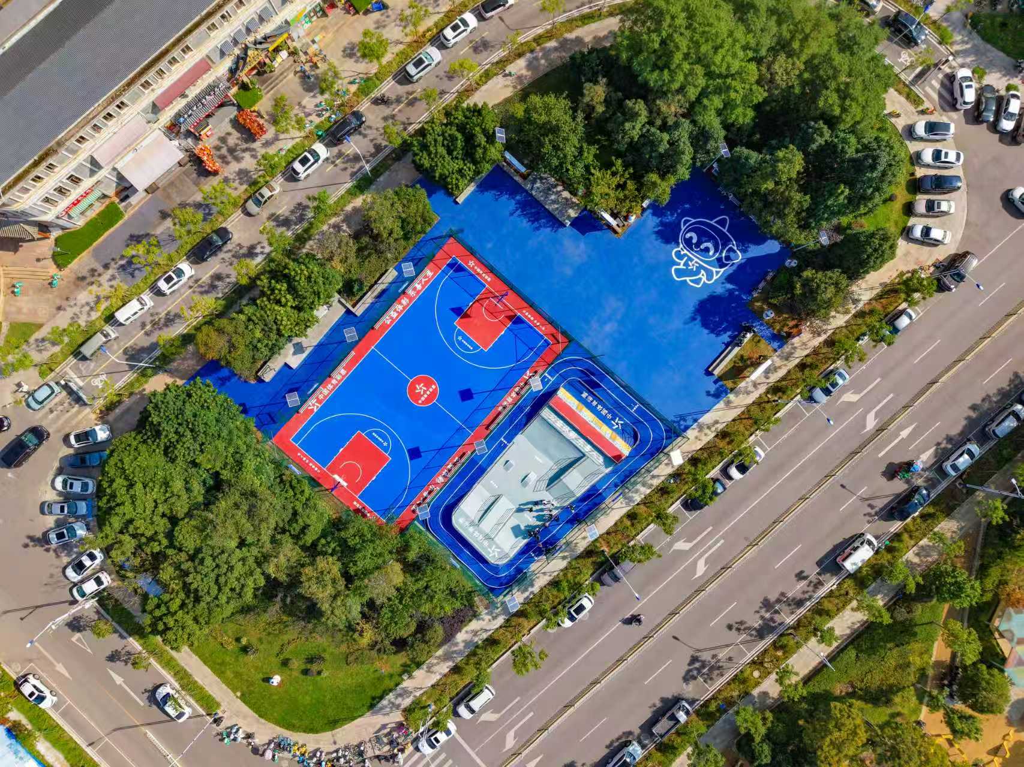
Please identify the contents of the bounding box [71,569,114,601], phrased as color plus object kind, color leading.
white car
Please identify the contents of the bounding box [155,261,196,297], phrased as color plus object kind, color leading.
white car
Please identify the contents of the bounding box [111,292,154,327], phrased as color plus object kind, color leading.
white vehicle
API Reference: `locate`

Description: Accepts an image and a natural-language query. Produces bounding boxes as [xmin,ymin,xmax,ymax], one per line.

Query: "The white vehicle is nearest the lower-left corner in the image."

[18,671,59,710]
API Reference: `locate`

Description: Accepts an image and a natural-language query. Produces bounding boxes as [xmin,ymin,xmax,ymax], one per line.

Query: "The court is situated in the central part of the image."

[272,237,569,537]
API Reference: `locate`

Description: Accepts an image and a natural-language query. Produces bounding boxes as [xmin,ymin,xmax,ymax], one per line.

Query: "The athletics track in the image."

[423,353,668,590]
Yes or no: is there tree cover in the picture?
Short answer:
Yes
